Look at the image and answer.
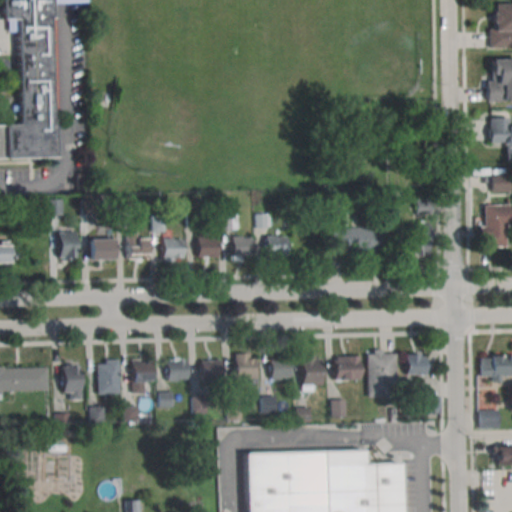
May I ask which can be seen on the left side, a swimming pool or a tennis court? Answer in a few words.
swimming pool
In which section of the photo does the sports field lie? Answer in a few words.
top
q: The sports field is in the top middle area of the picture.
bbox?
[91,0,434,192]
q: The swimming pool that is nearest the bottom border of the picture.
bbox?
[98,478,122,501]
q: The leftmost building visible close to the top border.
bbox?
[0,0,90,158]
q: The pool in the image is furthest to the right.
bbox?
[138,396,154,413]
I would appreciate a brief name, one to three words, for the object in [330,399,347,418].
building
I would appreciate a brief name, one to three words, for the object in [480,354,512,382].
house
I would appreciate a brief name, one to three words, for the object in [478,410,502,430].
building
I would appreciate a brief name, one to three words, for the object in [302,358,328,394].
house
